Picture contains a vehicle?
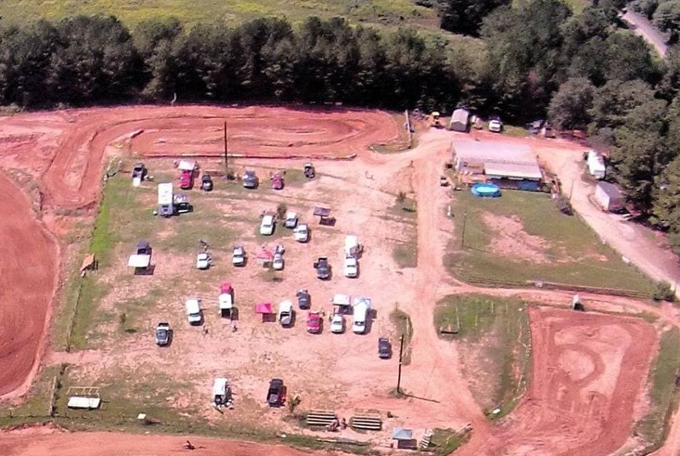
Yes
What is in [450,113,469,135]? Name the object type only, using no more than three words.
shed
